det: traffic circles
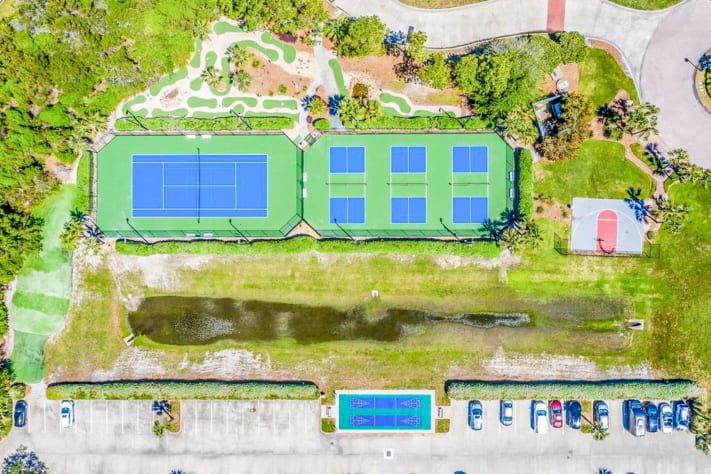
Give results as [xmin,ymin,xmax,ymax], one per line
[639,0,711,174]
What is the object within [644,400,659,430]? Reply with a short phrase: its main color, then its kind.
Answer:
blue car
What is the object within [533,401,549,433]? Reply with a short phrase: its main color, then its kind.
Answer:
white car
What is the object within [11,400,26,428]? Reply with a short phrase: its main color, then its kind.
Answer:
blue car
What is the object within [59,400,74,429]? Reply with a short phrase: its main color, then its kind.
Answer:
white car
